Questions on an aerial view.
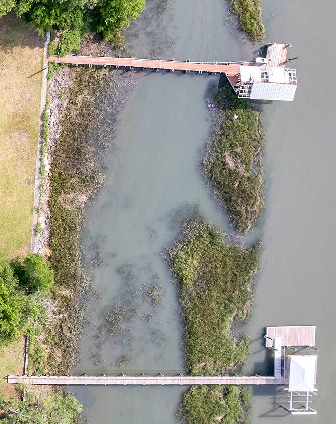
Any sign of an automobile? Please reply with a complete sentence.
No, I can't see a single automobile in this photo.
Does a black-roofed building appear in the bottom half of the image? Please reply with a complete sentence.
No, there is no black-roofed building in the bottom half of the image.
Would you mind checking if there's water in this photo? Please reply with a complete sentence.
Yes, there is water in the image.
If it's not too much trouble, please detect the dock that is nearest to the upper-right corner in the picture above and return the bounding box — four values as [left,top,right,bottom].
[265,43,288,70]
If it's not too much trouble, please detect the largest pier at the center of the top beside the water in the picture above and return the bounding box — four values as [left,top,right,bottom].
[48,55,288,95]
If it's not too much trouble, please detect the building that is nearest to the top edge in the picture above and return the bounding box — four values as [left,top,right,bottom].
[225,66,298,103]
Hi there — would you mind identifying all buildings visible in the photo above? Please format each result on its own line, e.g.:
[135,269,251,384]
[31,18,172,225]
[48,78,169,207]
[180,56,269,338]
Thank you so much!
[225,66,298,103]
[288,355,326,395]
